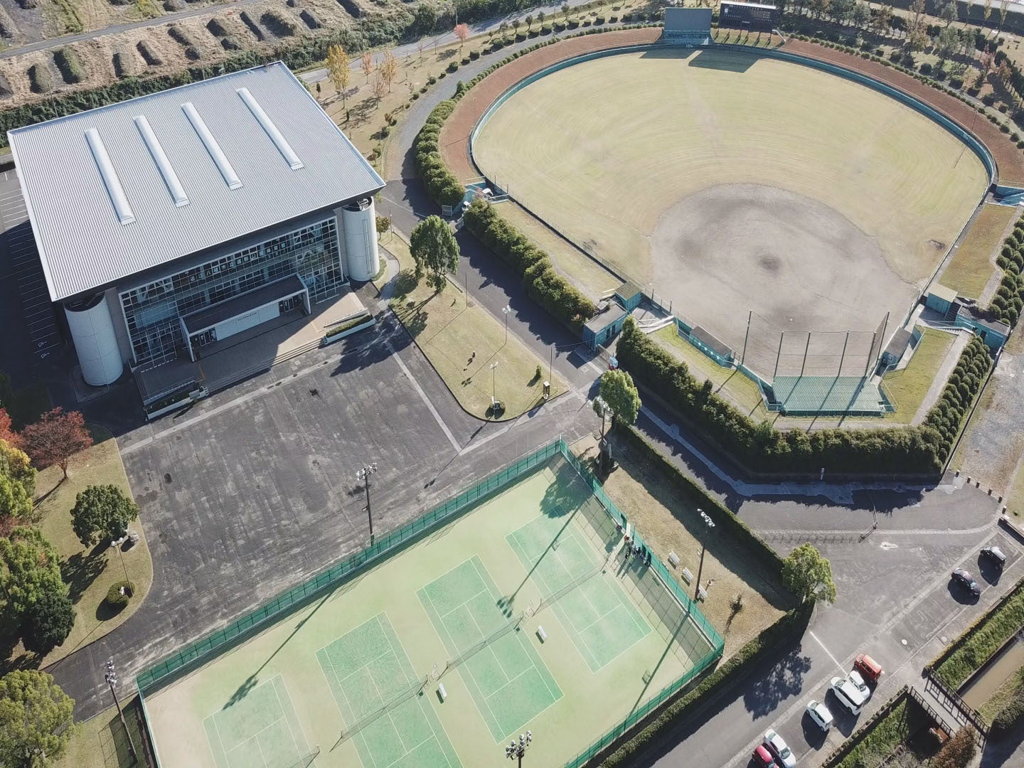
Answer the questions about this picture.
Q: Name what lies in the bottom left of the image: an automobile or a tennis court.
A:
tennis court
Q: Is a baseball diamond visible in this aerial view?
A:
Yes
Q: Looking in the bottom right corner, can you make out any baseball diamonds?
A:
No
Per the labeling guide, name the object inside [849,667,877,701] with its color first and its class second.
white car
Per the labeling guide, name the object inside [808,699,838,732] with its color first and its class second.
white car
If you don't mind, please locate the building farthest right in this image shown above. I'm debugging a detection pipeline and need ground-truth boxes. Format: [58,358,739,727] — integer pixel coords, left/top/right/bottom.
[959,302,1017,351]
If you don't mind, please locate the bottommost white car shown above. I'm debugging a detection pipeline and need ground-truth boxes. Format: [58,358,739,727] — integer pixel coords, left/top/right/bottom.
[766,726,799,768]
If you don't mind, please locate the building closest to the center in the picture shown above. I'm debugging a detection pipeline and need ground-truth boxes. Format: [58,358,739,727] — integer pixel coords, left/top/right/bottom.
[584,291,633,349]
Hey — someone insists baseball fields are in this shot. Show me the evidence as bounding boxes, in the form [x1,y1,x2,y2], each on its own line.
[473,47,988,382]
